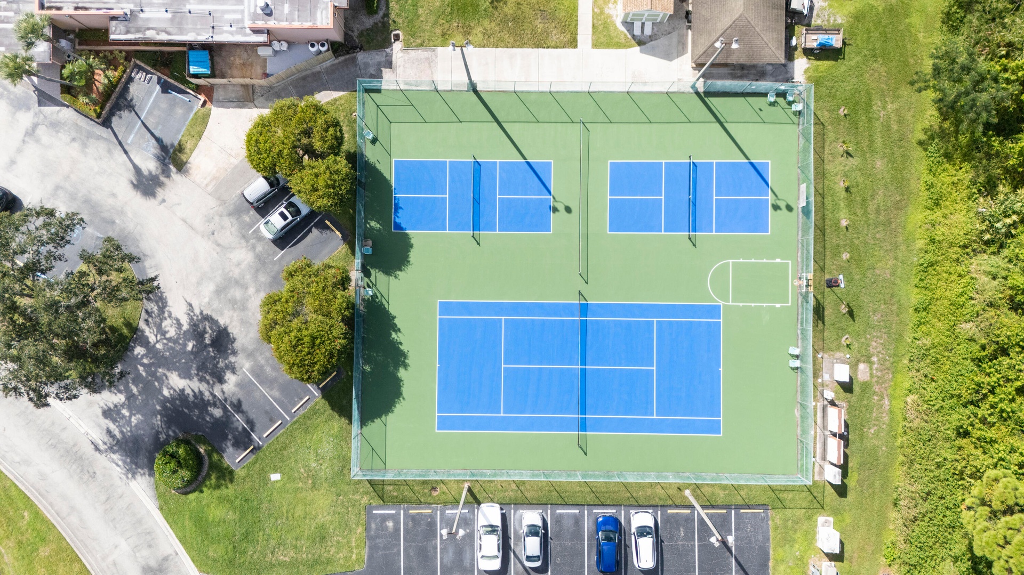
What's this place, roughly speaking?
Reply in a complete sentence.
It's a sports ground.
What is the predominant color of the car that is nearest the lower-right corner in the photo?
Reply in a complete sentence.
The car that is nearest the lower-right corner is white.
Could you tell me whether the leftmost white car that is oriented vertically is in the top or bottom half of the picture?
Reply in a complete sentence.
The leftmost white car that is oriented vertically sits in the bottom half of the picture.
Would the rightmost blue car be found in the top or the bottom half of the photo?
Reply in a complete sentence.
The rightmost blue car sits in the bottom half of the picture.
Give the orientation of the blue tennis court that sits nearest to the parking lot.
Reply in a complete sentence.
What the image shows is the blue tennis court that sits nearest to the parking lot lying horizontally.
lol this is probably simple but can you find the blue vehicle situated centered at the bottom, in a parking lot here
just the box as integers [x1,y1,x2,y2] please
[595,514,621,571]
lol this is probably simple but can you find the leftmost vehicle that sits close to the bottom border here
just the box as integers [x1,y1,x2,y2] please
[476,505,503,572]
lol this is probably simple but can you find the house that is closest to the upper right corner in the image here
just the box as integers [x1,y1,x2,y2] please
[689,0,786,69]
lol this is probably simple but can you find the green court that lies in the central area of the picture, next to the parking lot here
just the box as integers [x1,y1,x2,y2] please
[360,90,802,475]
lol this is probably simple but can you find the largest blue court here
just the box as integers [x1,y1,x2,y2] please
[435,300,722,436]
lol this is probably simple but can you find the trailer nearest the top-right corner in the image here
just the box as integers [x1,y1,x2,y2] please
[799,26,856,56]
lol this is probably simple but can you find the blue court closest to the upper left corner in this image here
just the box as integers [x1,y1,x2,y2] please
[392,158,553,233]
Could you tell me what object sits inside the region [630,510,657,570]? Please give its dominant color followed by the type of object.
white car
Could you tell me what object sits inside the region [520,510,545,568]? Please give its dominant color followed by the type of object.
white car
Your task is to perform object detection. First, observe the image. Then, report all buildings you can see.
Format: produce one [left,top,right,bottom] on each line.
[35,0,350,50]
[621,0,672,22]
[689,0,786,69]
